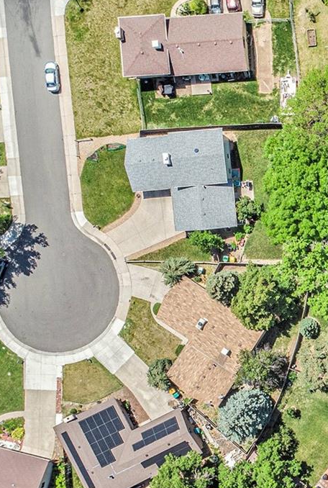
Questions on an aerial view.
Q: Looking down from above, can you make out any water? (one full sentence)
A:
No, the picture contains no water.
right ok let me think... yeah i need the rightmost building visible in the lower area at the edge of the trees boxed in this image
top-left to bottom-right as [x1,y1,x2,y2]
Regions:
[156,275,265,407]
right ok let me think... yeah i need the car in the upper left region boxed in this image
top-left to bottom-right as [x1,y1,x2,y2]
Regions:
[44,62,62,93]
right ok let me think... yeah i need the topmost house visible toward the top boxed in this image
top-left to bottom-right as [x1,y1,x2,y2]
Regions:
[115,12,249,80]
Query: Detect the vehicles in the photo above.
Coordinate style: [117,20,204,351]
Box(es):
[249,0,265,19]
[209,0,224,13]
[227,0,242,12]
[0,256,9,283]
[44,62,62,93]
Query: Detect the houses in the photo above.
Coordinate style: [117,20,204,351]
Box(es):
[115,12,249,80]
[0,445,56,488]
[126,127,238,232]
[156,275,265,407]
[53,398,204,488]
